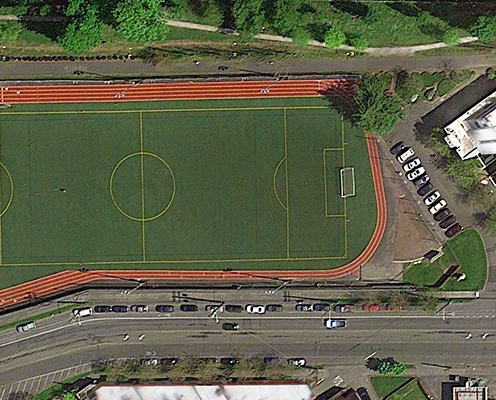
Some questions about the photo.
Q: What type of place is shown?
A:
sports ground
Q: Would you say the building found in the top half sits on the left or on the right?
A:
right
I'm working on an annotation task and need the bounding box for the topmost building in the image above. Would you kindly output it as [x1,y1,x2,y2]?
[443,94,496,160]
